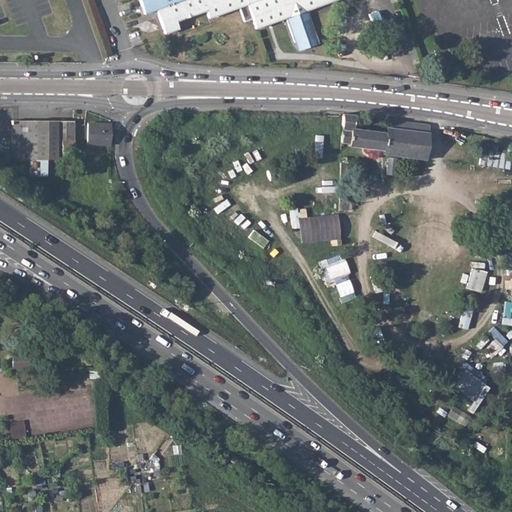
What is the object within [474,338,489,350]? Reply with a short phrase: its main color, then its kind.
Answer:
white vehicle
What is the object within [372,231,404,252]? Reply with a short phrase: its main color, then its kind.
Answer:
white vehicle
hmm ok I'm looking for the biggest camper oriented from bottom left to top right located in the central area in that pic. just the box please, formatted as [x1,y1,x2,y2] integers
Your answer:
[212,199,231,214]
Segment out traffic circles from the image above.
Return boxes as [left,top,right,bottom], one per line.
[110,67,174,114]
